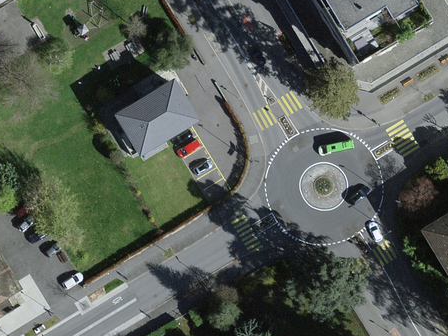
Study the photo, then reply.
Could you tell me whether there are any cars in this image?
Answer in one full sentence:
Yes, looking at the shot, I can spot a car.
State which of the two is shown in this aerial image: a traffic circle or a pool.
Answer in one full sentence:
This aerial view contains a traffic circle.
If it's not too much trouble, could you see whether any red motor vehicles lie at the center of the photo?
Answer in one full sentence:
Yes, I can see a red motor vehicle at the center of the photo.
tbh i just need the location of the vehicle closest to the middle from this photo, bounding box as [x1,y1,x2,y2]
[193,158,214,174]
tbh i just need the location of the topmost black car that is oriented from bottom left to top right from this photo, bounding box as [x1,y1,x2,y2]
[173,129,194,145]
